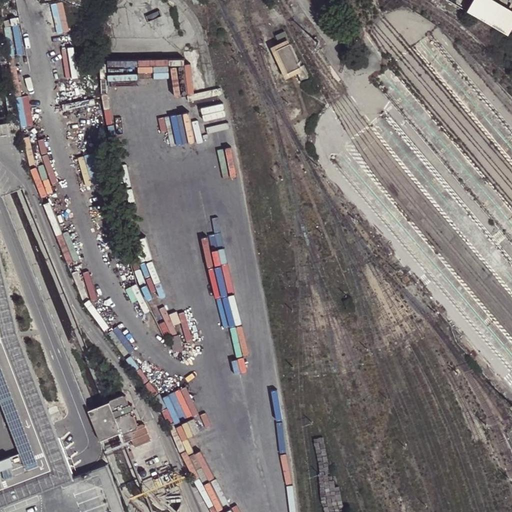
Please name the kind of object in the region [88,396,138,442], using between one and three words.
building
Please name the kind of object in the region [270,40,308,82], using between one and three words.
building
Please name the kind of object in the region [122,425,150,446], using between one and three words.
shed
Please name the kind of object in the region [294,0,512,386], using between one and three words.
train station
